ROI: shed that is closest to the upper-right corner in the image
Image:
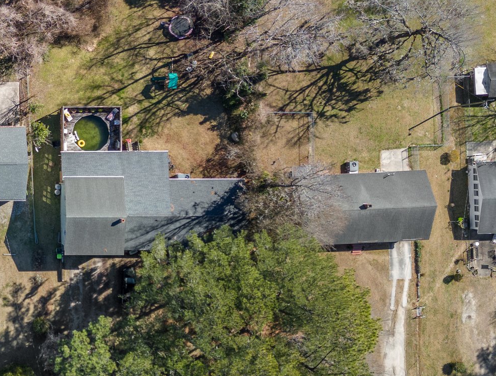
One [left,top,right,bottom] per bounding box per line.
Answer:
[465,64,496,97]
